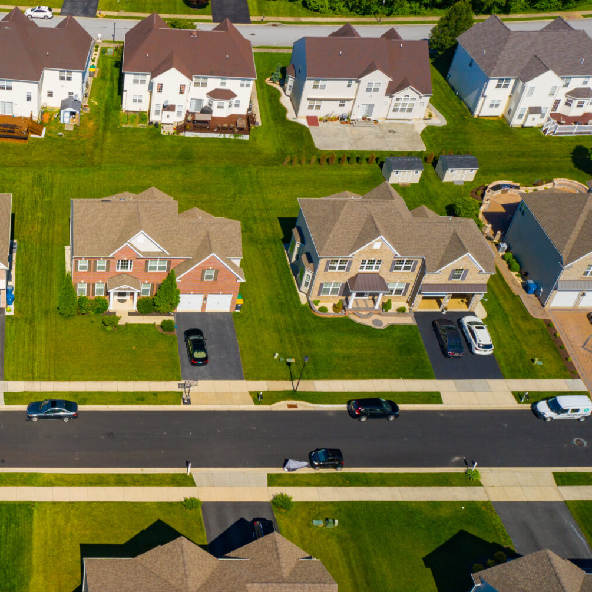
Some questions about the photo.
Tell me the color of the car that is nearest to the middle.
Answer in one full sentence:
The car that is nearest to the middle looks black in the image.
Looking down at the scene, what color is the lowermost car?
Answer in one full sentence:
In this view, the lowermost car is black.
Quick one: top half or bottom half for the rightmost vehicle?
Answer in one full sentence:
The bottom half of the photo is where the rightmost vehicle is.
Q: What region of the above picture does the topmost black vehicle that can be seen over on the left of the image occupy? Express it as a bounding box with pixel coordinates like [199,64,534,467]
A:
[184,330,208,367]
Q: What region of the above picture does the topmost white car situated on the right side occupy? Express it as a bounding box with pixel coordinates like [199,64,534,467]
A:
[459,319,494,355]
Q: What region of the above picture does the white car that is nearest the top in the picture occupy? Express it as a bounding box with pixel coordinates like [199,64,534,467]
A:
[25,6,54,20]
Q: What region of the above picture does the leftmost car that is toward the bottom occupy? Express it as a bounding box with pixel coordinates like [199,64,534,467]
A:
[27,399,80,424]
